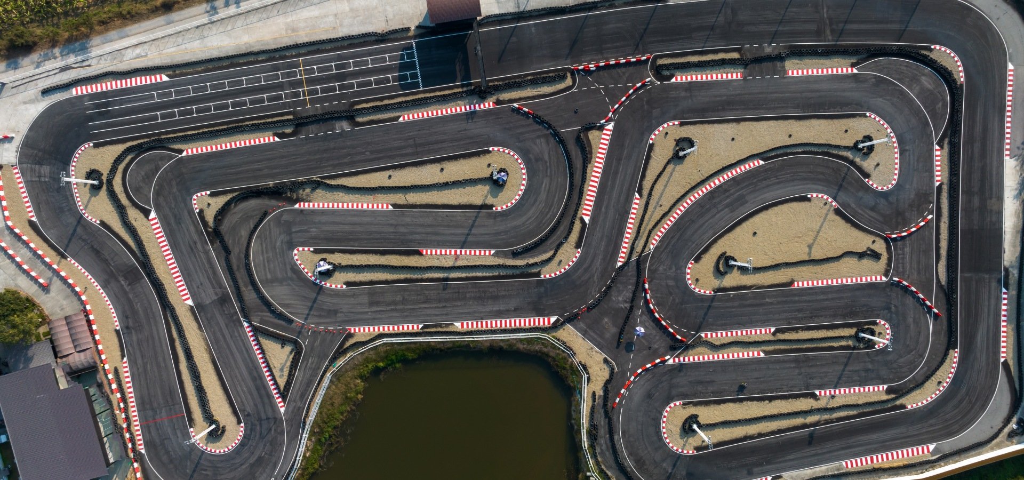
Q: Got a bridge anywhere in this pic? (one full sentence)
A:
No, the frame has no bridge in it.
